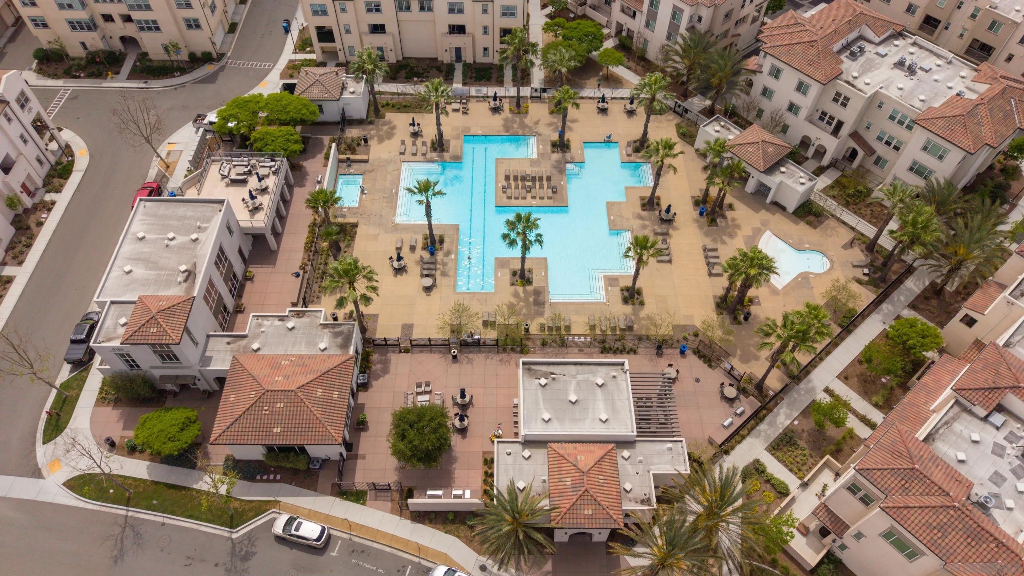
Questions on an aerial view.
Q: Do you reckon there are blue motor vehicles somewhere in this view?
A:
No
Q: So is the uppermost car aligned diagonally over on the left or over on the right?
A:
left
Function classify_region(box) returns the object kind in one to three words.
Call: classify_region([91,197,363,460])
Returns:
building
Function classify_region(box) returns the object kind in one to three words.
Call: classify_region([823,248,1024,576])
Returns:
building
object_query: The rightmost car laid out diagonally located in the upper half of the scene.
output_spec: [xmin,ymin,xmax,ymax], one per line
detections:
[125,180,155,212]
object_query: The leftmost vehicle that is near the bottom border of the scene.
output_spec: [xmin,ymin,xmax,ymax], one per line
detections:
[269,516,329,552]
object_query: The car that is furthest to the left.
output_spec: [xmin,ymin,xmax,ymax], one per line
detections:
[57,313,98,366]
